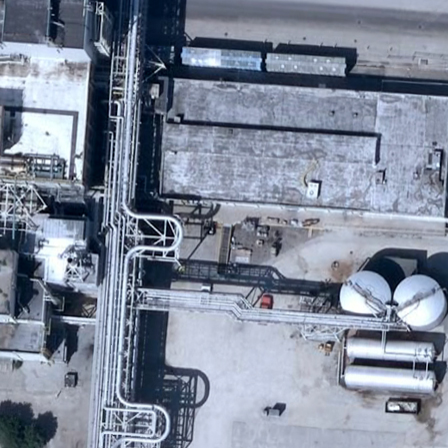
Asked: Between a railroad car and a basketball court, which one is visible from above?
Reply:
railroad car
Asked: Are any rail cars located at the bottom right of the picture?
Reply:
No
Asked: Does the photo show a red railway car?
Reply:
No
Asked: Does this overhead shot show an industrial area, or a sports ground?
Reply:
industrial area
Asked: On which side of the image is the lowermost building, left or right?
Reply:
left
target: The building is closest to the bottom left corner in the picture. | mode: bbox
[0,319,53,362]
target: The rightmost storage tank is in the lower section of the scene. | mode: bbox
[395,278,446,333]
